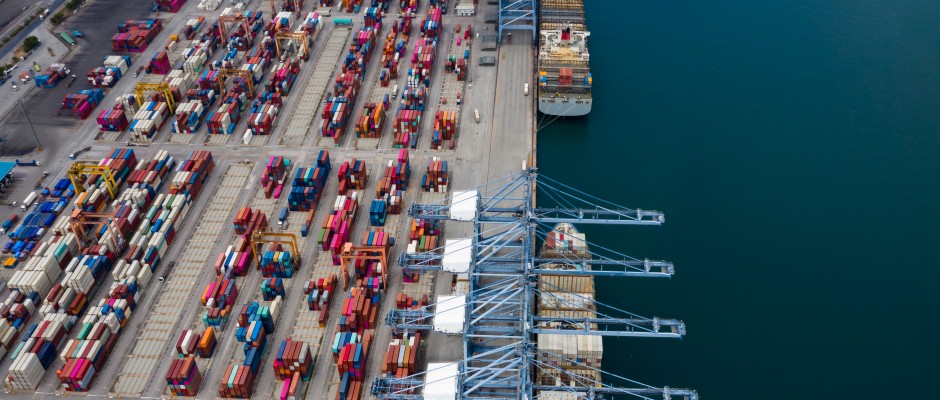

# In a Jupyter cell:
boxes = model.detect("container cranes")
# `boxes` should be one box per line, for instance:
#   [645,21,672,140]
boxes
[372,338,703,400]
[215,62,253,100]
[65,152,112,195]
[216,15,251,49]
[386,271,690,398]
[274,26,308,61]
[408,166,665,287]
[133,72,175,109]
[341,241,389,293]
[249,221,300,269]
[68,203,125,251]
[397,214,677,342]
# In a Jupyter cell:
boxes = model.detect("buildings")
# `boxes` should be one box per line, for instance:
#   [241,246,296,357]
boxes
[0,159,19,185]
[454,4,474,15]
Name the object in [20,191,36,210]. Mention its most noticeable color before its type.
white vehicle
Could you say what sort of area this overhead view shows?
port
